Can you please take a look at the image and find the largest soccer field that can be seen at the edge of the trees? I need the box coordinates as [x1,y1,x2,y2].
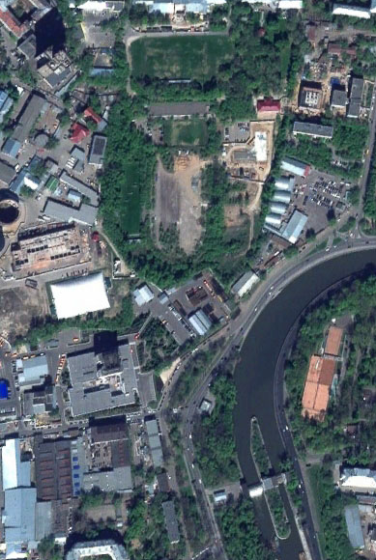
[128,30,236,82]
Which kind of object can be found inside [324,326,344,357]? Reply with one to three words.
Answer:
tennis court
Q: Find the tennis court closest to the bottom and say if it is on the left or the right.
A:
right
